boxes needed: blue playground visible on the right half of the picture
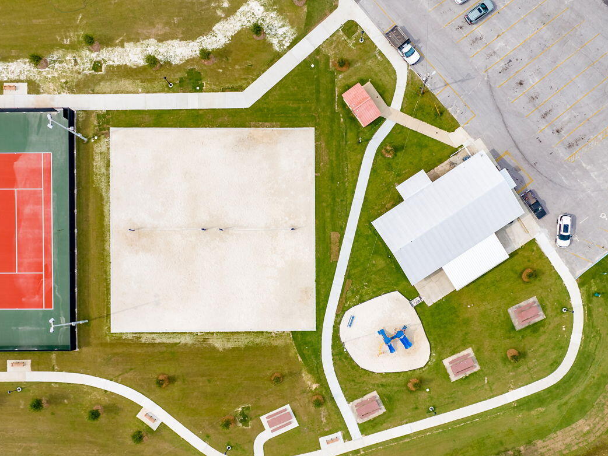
[377,324,413,356]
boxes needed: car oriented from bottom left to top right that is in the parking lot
[464,0,495,26]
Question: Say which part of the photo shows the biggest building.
right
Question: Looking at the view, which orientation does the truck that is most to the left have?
diagonally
